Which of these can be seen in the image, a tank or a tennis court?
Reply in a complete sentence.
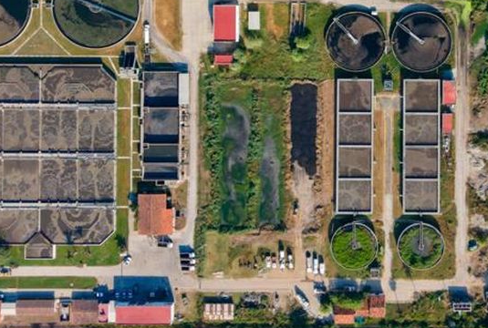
There is a tank in the scene.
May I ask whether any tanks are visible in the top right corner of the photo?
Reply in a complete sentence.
Yes, looking in the top right corner of the photo, one can make out a tank.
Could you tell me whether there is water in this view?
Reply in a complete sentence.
Yes, water shows up in the scene.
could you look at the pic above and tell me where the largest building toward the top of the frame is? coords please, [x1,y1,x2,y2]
[214,5,239,40]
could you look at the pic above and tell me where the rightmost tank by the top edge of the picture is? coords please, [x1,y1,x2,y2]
[392,12,452,72]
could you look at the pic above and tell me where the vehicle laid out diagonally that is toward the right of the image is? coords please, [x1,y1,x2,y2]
[297,293,314,311]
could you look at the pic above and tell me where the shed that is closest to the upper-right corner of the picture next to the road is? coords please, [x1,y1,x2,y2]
[442,81,456,105]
